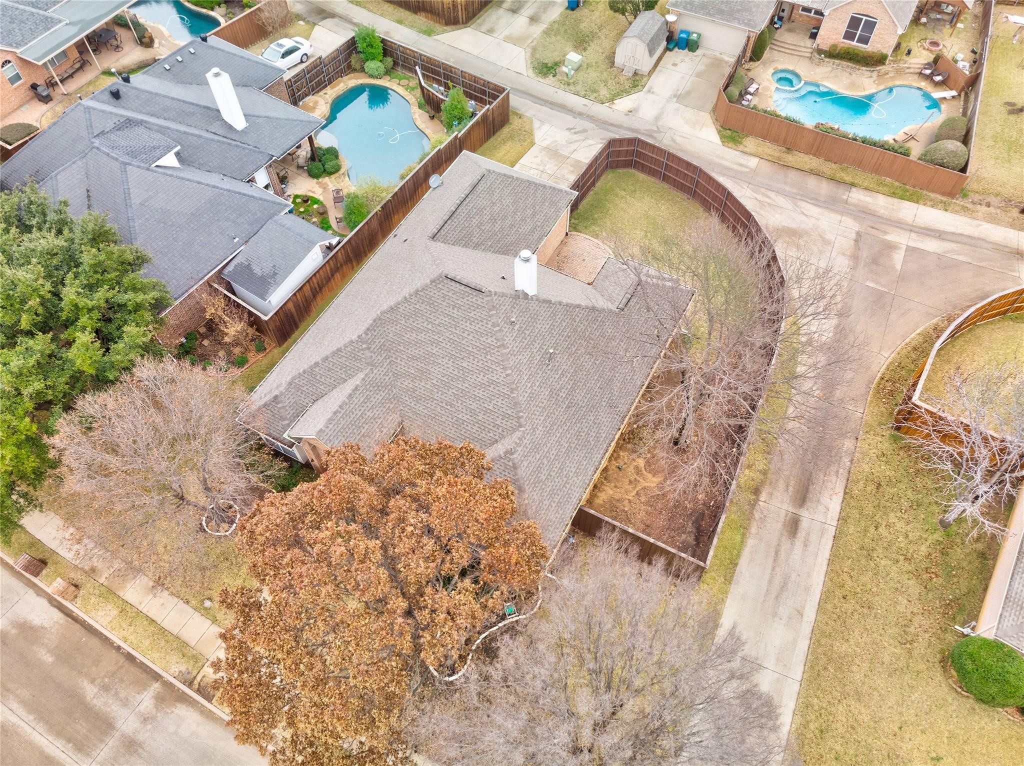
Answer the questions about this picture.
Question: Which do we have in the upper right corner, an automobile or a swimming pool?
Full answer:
Looking in the upper right corner, you will find a swimming pool.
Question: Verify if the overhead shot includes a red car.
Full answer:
No, no red car is visible in the scene.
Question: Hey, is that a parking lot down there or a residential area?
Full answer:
The area seen from above is a residential area.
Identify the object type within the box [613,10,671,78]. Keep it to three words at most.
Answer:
shed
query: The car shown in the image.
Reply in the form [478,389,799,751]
[257,38,314,67]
